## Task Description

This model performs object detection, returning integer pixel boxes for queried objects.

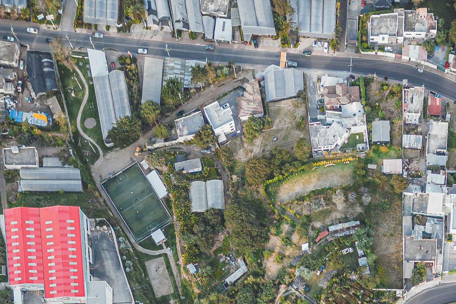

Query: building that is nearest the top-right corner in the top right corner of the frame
[403,8,437,41]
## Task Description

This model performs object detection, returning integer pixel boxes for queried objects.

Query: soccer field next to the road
[99,162,170,240]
